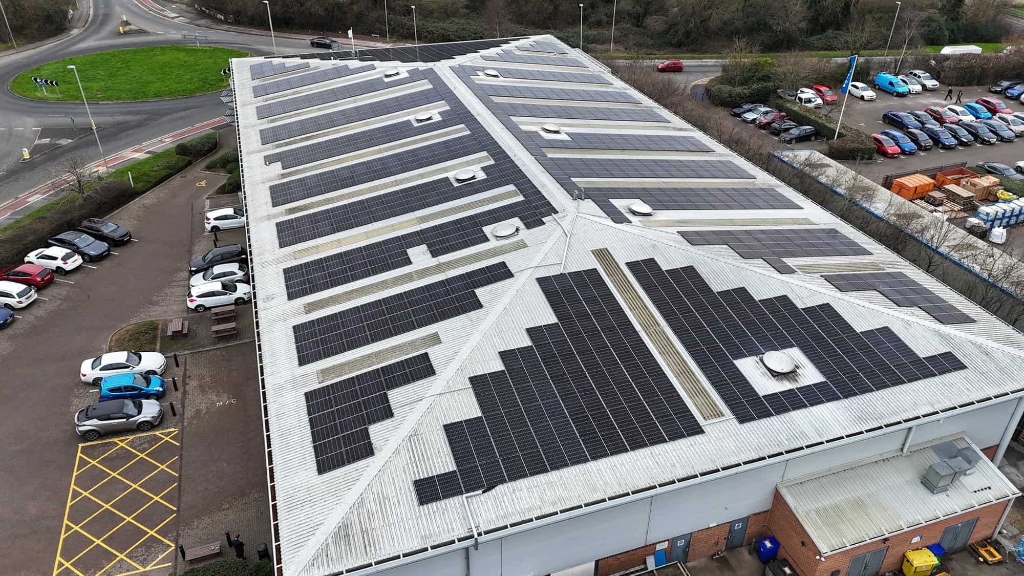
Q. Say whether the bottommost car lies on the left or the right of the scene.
left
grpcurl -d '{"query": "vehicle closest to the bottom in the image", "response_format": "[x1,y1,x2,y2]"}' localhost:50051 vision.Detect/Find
[76,398,158,441]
